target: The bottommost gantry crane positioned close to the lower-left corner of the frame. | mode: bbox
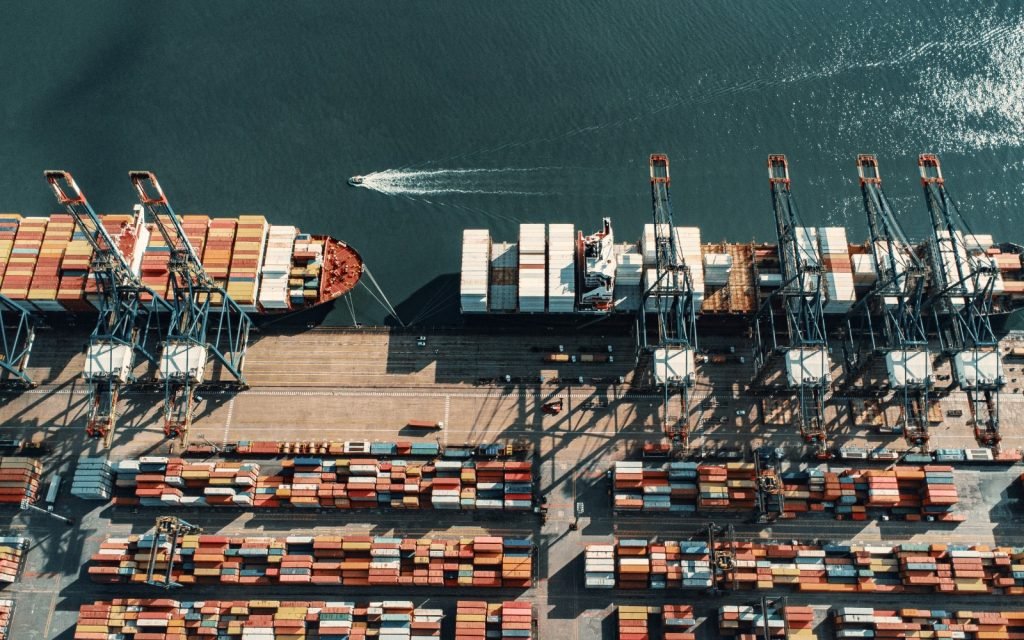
[147,520,202,594]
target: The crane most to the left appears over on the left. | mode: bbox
[0,290,55,386]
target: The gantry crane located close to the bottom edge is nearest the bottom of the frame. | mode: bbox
[745,597,795,640]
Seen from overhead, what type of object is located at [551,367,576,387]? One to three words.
vehicle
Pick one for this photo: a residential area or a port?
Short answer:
port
